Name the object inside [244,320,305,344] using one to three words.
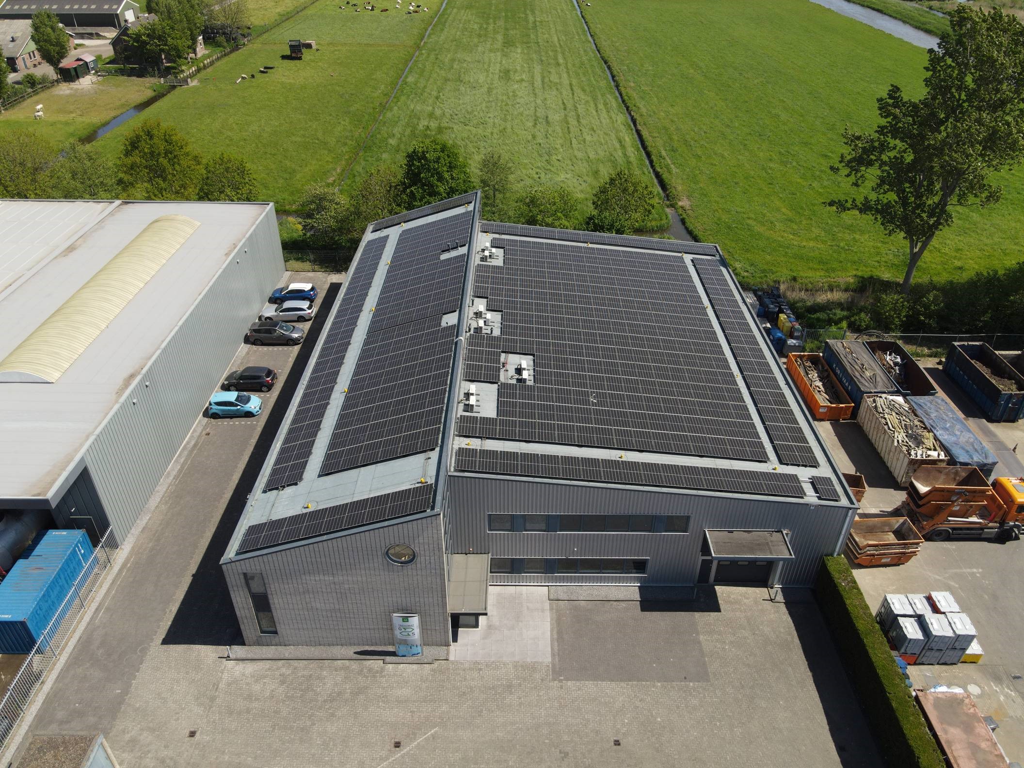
car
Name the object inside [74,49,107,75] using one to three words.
shed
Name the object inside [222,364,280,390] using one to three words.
car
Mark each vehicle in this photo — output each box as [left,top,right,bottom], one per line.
[868,475,1024,538]
[260,298,317,320]
[244,320,305,344]
[207,390,266,418]
[222,364,280,390]
[270,279,319,301]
